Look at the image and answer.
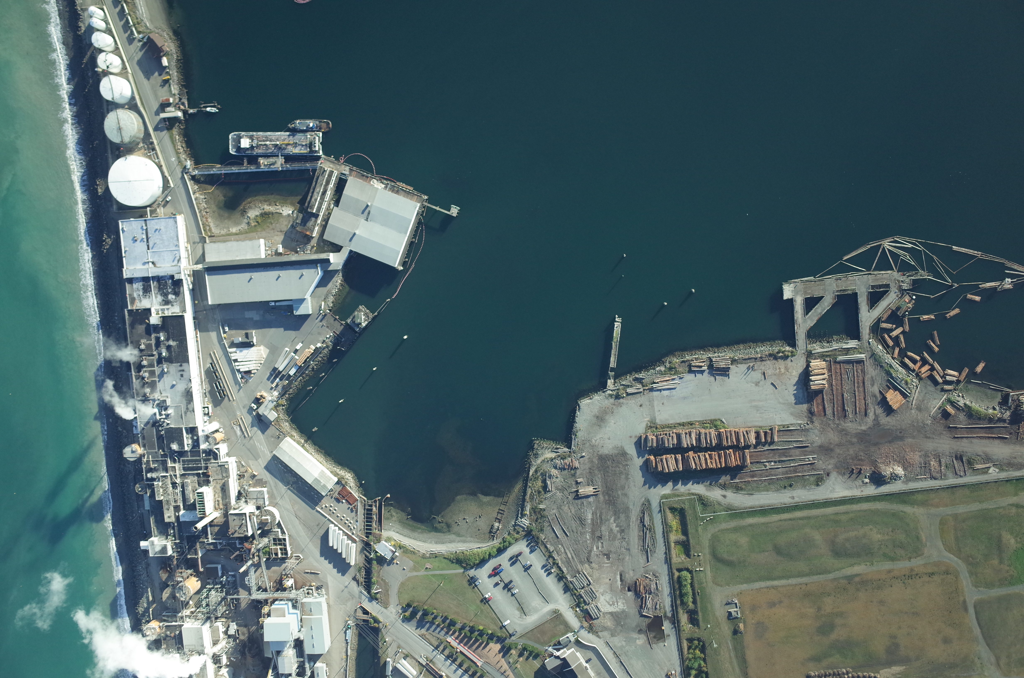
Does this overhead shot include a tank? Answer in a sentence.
Yes, the image includes a tank.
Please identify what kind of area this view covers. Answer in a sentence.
What you see here is a port.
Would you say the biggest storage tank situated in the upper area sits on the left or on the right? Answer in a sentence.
It is on the left.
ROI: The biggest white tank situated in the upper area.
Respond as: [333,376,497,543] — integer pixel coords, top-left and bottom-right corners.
[110,157,162,206]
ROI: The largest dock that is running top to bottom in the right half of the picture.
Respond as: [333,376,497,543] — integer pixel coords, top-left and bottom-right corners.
[607,316,622,387]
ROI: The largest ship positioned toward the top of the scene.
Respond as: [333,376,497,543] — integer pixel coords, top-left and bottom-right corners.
[229,132,324,156]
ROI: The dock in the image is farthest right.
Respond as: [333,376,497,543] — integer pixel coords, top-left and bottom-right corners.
[781,273,902,353]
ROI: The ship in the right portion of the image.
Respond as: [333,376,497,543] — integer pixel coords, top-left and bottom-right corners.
[891,291,916,317]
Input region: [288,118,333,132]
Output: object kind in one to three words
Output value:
boat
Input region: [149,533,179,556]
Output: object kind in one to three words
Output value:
building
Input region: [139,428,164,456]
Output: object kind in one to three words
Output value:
building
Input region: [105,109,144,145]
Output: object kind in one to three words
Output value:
storage tank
